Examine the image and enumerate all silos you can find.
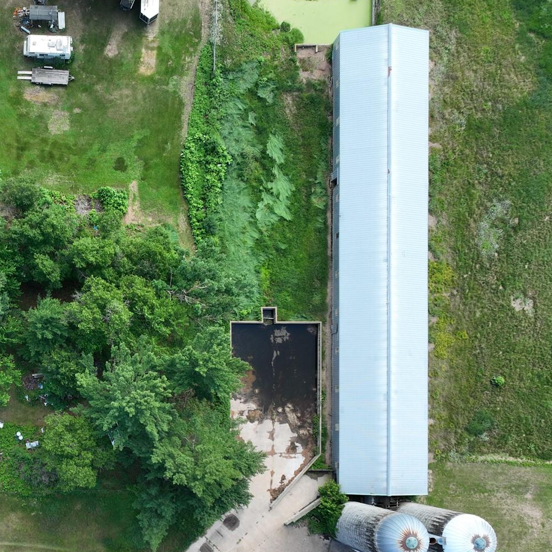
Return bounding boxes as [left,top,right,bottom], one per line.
[399,501,499,552]
[336,501,431,552]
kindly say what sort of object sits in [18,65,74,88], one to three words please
trailer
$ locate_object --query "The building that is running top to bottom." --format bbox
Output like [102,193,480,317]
[329,24,428,496]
